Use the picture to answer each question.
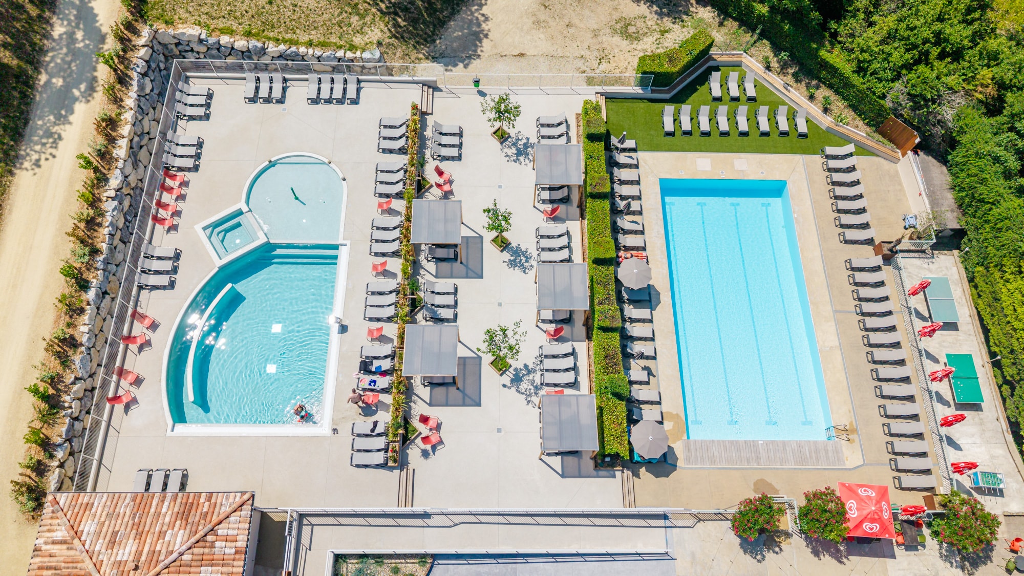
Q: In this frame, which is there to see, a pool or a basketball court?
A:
pool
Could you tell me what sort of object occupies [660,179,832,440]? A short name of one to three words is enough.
swimming pool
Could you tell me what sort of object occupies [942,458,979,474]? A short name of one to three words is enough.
umbrella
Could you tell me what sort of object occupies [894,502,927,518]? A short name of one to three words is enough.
umbrella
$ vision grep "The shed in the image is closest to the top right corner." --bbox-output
[874,117,918,156]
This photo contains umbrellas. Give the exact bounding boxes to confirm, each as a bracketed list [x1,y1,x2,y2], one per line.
[837,482,896,539]
[932,411,967,428]
[942,458,979,474]
[631,348,646,365]
[616,260,651,293]
[911,322,942,341]
[894,502,927,518]
[920,366,955,383]
[627,419,670,463]
[620,199,633,220]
